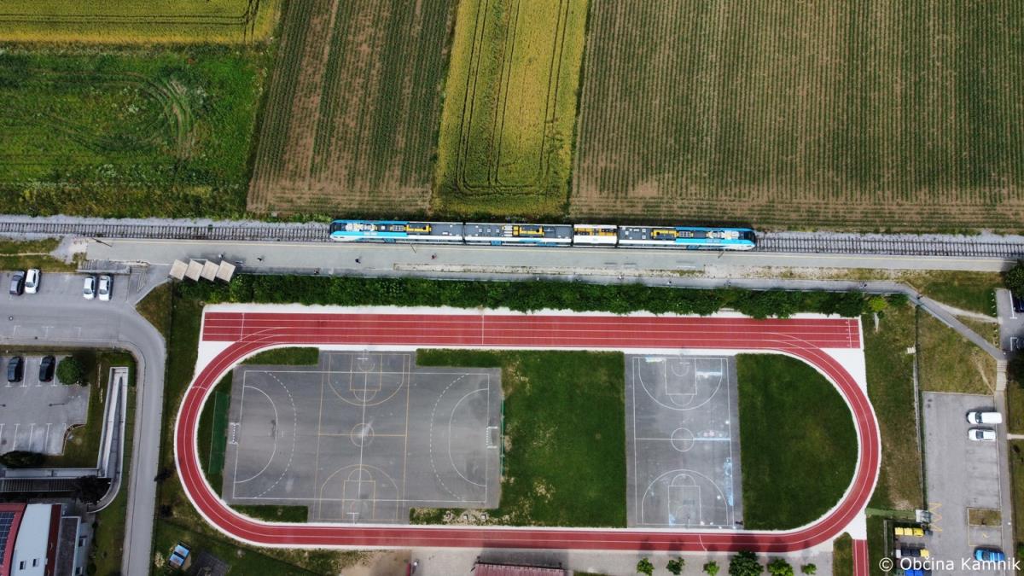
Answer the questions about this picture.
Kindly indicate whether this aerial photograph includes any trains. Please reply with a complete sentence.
Yes, a train can be made out from above.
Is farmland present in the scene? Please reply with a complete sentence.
Yes, there is farmland in the image.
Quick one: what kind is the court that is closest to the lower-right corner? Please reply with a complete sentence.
Specifically, the court that is closest to the lower-right corner is a basketball court.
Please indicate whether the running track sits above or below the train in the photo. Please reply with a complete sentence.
The running track is below the train.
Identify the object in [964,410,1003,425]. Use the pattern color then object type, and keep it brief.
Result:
white vehicle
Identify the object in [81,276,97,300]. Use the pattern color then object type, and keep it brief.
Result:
white car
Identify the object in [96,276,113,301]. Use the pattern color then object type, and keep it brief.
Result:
white car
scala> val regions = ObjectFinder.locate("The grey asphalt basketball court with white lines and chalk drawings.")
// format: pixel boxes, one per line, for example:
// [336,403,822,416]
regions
[625,354,743,530]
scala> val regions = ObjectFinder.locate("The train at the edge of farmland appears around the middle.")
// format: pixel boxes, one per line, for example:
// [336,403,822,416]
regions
[329,221,757,250]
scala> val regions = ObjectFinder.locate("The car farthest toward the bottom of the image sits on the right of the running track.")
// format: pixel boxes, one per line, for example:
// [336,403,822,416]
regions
[972,547,1005,562]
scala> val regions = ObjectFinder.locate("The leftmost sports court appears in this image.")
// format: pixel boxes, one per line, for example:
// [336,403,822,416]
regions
[223,350,500,524]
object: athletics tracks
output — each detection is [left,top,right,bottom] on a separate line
[174,304,883,576]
